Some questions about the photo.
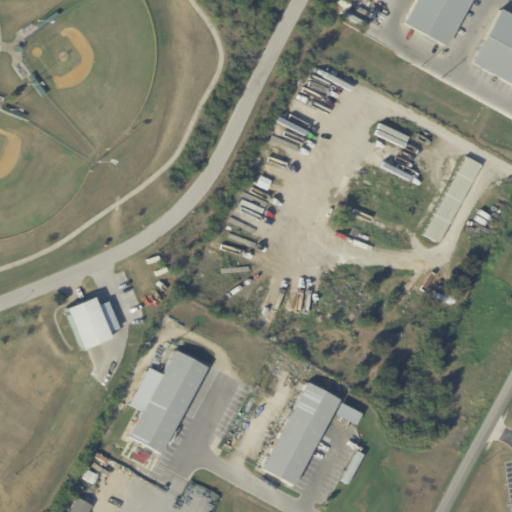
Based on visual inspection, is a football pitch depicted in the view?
No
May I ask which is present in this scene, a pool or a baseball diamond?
baseball diamond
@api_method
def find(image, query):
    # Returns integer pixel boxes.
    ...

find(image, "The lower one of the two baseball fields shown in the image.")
[0,119,90,238]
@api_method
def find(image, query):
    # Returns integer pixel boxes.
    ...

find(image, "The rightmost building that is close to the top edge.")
[470,10,512,86]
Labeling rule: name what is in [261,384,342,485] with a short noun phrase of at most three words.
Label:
building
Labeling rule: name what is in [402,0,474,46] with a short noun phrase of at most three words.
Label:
building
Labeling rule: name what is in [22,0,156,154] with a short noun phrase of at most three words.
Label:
baseball field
